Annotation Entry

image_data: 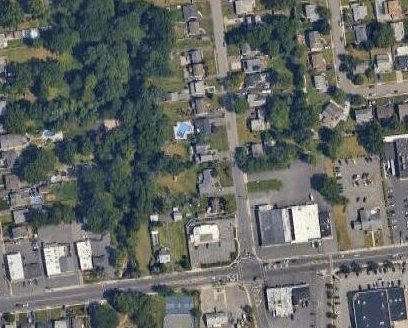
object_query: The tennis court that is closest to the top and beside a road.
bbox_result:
[166,295,195,314]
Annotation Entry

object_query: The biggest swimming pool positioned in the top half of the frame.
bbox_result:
[176,121,194,140]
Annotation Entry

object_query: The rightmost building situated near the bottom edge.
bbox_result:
[355,286,407,328]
